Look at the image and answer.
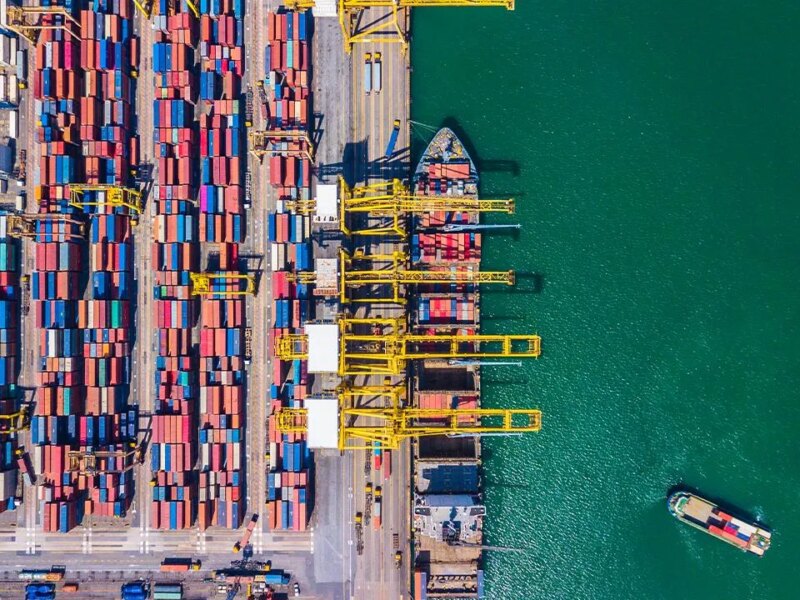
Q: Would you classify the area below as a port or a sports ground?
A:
port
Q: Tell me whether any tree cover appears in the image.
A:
No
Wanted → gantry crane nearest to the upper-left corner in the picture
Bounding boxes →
[4,6,81,48]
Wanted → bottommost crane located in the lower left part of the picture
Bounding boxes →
[68,441,143,475]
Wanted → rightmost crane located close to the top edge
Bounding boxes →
[284,0,515,63]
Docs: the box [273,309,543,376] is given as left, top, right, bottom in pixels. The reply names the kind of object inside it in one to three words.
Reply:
container crane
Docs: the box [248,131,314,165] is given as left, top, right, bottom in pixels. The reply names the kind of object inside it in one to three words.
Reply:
container crane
